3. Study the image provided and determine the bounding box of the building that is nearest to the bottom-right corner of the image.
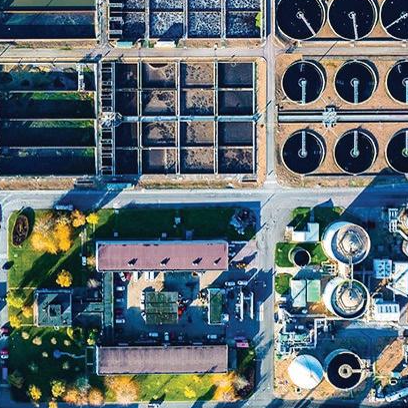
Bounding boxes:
[373,301,400,316]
